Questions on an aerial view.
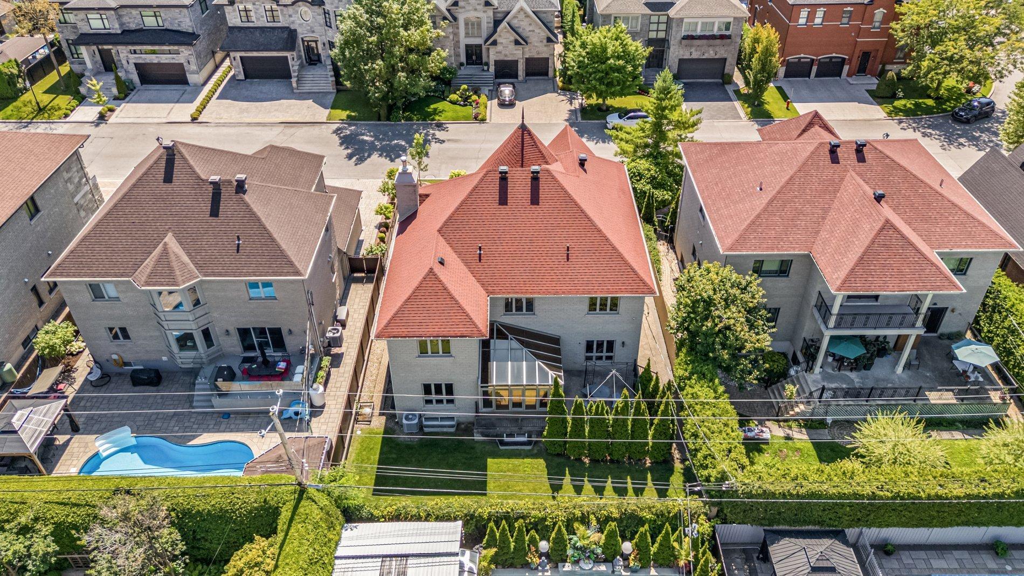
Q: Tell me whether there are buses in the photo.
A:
No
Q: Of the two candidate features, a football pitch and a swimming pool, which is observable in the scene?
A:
swimming pool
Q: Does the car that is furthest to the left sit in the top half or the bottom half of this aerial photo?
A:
top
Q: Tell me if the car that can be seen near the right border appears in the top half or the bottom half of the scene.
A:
top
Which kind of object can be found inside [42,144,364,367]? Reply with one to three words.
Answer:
house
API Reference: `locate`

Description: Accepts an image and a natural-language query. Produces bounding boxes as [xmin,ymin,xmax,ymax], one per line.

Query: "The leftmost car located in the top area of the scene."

[495,77,518,102]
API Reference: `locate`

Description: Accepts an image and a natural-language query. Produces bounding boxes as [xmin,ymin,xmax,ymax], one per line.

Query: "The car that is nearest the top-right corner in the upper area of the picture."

[955,92,1006,123]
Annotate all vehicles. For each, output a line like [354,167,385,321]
[955,92,1006,123]
[495,77,518,102]
[607,109,658,134]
